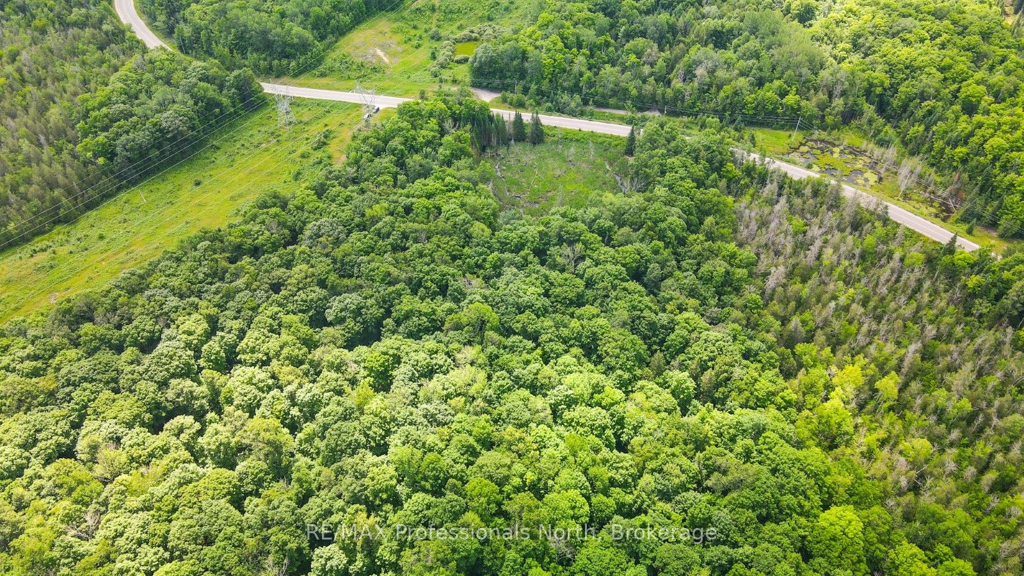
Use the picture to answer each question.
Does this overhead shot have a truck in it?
No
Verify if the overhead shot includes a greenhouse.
No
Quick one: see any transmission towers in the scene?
Yes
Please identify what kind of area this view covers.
forest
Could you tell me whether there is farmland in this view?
No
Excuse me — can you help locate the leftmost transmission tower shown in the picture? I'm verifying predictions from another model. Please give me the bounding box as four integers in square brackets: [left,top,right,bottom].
[264,76,300,130]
